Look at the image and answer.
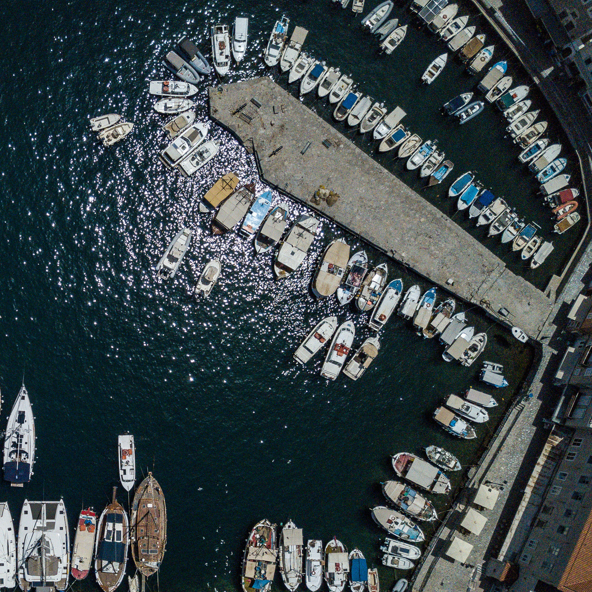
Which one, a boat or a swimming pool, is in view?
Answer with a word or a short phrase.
boat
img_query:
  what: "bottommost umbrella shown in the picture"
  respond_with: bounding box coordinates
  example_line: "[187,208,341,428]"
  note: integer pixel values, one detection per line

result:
[446,536,473,565]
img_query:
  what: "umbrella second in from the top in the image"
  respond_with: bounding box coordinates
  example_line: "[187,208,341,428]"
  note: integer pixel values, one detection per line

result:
[461,509,487,535]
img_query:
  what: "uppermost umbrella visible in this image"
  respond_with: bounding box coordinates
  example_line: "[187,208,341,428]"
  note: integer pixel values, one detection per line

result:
[473,485,498,509]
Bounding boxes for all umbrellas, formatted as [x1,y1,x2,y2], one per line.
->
[446,536,473,565]
[473,485,498,509]
[461,509,487,535]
